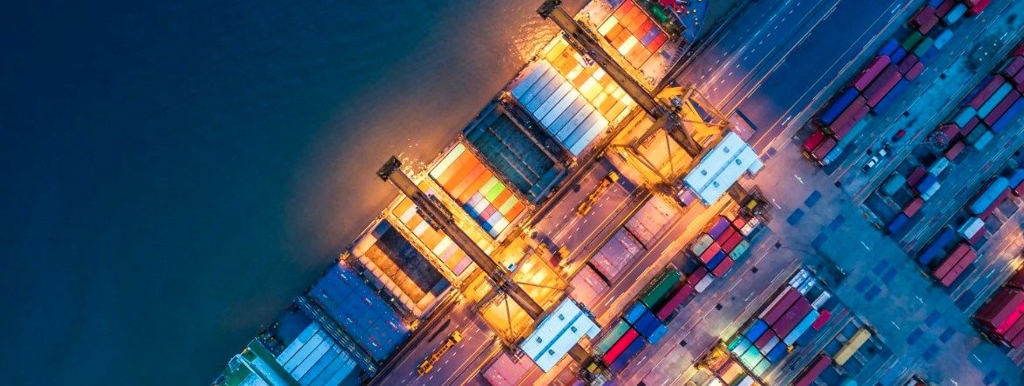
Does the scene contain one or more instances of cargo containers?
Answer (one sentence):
Yes, there's a cargo container down there.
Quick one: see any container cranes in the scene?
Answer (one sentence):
Yes, there's a container crane here.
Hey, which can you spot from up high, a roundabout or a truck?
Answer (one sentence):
It is a truck that can be seen here.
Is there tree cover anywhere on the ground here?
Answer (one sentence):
No, there's no tree cover in this view.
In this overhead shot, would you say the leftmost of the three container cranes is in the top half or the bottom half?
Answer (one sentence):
The leftmost of the three container cranes is in the bottom half of the image.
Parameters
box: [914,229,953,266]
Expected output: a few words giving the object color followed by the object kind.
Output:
blue shipping container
